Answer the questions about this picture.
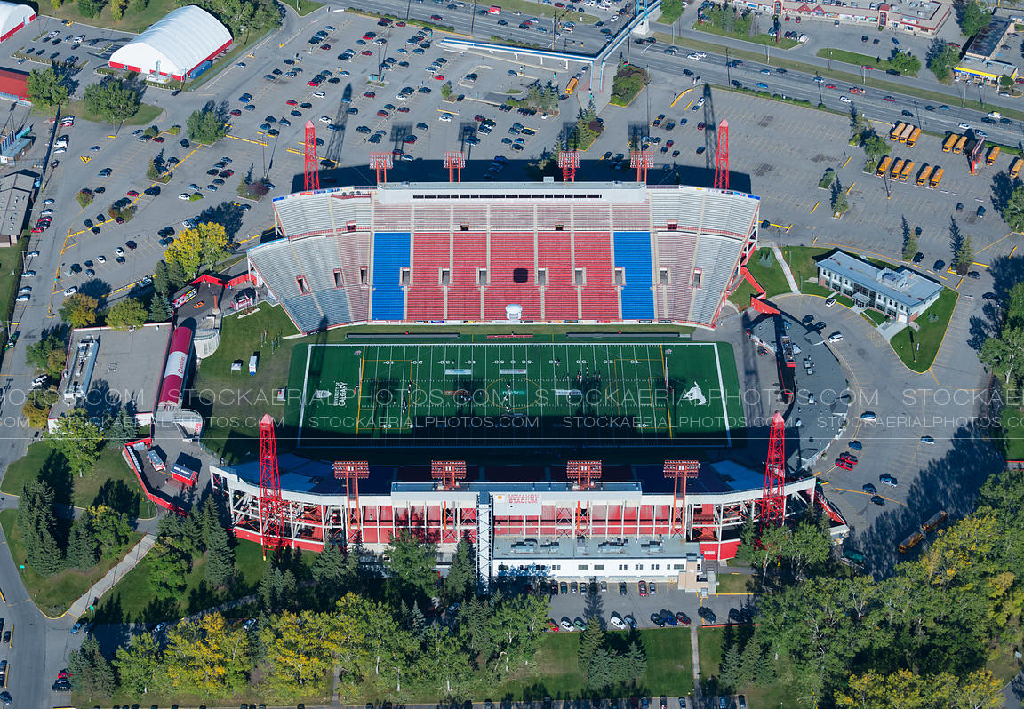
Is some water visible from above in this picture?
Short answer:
No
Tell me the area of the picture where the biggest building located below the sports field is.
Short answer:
bottom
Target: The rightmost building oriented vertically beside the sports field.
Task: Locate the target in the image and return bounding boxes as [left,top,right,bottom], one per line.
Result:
[774,313,849,475]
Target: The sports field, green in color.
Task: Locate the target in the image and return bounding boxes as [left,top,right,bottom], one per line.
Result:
[278,334,751,456]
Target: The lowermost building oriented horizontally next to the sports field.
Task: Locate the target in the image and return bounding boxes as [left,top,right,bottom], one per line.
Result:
[489,534,718,594]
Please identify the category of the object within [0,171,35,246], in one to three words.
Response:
building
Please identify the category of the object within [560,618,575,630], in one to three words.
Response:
vehicle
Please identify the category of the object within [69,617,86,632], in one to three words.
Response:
vehicle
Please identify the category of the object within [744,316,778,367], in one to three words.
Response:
building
